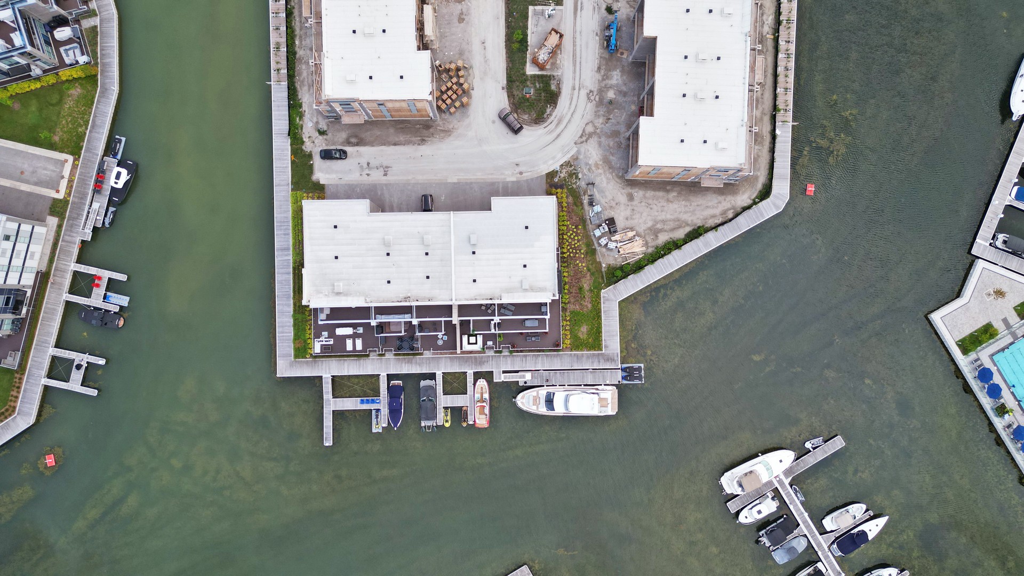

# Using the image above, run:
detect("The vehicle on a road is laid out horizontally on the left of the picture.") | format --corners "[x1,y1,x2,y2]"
[320,148,347,161]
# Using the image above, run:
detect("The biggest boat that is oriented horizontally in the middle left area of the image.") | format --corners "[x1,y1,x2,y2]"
[77,308,127,328]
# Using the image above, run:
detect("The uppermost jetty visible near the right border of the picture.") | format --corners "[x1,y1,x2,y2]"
[970,122,1024,274]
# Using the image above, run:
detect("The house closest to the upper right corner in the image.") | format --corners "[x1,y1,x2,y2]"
[625,0,764,188]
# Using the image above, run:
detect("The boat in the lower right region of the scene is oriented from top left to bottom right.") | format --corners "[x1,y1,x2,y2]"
[792,485,806,501]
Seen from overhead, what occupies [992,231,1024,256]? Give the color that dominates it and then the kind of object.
gray boat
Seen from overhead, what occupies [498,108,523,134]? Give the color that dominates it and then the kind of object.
gray car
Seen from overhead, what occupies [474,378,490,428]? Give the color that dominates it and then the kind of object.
white boat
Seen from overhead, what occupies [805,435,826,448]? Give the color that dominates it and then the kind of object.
white boat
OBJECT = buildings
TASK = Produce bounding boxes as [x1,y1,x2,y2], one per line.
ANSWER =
[302,196,562,354]
[307,0,440,125]
[625,0,764,188]
[0,0,96,89]
[0,208,50,368]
